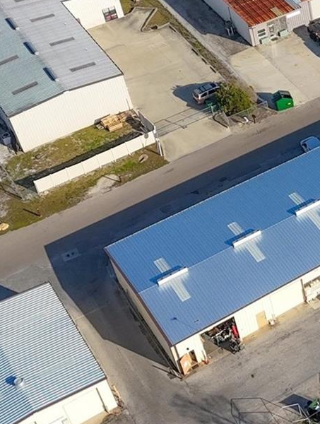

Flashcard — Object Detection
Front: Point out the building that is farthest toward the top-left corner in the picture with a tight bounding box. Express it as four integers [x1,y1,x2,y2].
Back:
[0,0,130,148]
